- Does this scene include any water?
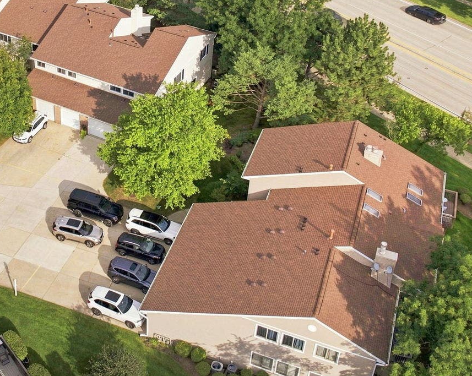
No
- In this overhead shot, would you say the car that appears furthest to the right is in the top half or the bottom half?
top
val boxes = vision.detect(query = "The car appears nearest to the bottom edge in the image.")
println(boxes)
[85,285,144,328]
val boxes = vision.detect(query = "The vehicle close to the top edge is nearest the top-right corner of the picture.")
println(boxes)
[405,3,446,24]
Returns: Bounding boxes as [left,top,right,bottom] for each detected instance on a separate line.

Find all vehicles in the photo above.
[65,188,127,226]
[125,207,181,245]
[103,255,158,294]
[13,113,50,145]
[85,285,144,328]
[405,3,446,24]
[49,215,105,248]
[111,228,168,264]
